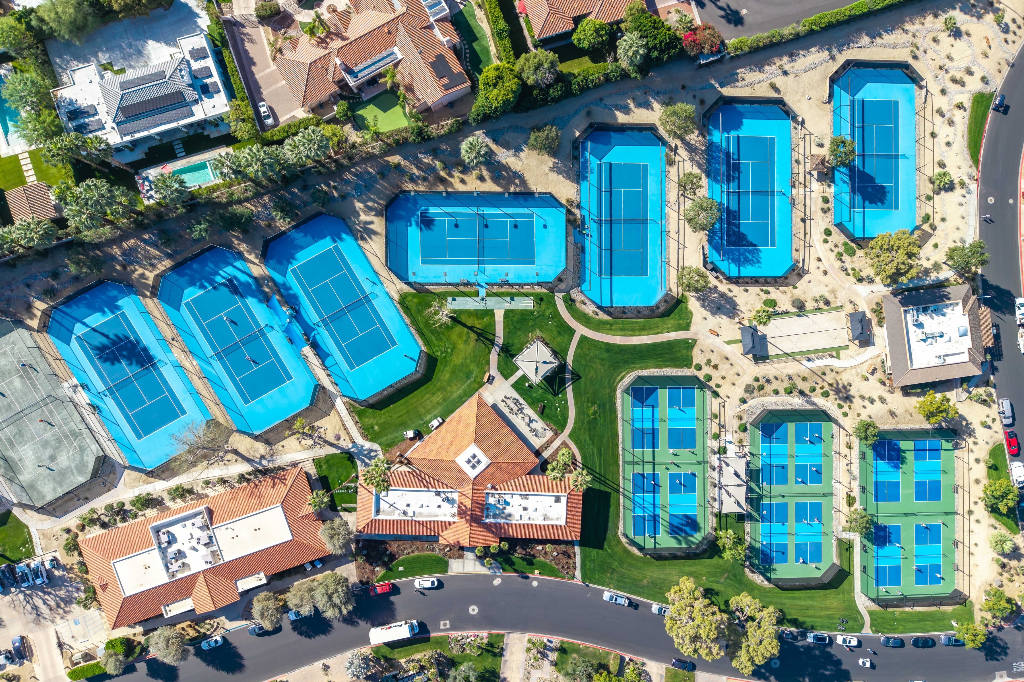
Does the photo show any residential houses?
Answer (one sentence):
Yes, a residential house can be made out from above.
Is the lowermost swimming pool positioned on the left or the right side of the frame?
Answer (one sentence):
The lowermost swimming pool is on the left side of the image.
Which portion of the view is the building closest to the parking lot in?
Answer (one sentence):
The building closest to the parking lot appears toward the bottom left of the photo.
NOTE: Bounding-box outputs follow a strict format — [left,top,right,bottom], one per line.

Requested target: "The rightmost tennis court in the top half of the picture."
[833,68,916,235]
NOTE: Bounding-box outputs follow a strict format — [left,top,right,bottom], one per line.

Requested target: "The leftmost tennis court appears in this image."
[0,318,104,509]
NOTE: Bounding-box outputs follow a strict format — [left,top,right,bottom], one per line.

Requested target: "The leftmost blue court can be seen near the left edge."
[47,281,212,470]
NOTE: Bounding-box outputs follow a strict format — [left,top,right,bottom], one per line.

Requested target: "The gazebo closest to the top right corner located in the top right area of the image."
[804,154,827,174]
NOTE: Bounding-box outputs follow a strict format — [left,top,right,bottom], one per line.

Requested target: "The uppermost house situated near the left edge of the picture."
[50,32,233,161]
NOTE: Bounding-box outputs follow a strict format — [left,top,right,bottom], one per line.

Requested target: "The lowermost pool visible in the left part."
[172,159,216,184]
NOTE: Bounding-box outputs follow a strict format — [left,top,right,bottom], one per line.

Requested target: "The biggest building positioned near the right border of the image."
[878,283,985,387]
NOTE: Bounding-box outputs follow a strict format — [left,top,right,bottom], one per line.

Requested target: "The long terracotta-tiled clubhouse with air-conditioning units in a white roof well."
[78,467,332,631]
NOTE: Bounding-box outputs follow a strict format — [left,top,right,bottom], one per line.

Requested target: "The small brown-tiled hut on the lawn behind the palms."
[5,181,65,220]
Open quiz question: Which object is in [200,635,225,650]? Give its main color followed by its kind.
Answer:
blue car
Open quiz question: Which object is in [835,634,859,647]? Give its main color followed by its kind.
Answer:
white vehicle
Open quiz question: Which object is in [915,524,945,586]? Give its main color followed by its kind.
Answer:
blue sports court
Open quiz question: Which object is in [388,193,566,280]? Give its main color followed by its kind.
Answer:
blue tennis court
